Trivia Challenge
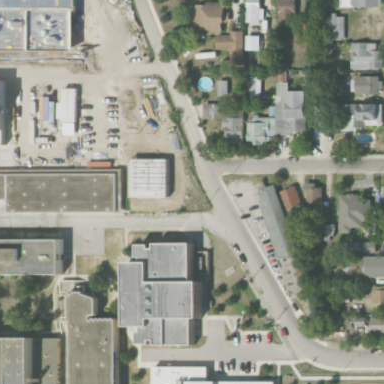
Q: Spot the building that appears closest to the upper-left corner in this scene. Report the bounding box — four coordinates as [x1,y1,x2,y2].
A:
[0,0,78,50]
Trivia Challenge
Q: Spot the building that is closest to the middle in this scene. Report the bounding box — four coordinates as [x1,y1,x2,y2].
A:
[128,159,170,197]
